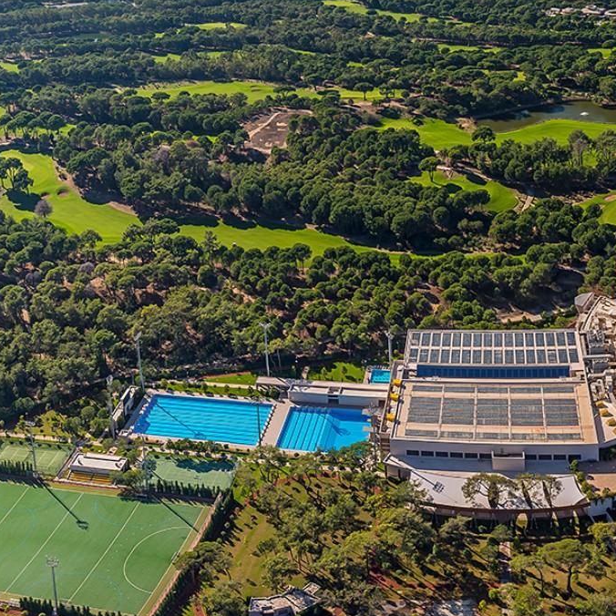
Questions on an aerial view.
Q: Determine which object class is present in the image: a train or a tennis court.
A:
tennis court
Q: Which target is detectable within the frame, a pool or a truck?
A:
pool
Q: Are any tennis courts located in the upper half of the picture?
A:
No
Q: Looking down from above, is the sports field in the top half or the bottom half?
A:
bottom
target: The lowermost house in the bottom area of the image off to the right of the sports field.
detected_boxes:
[249,581,321,616]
